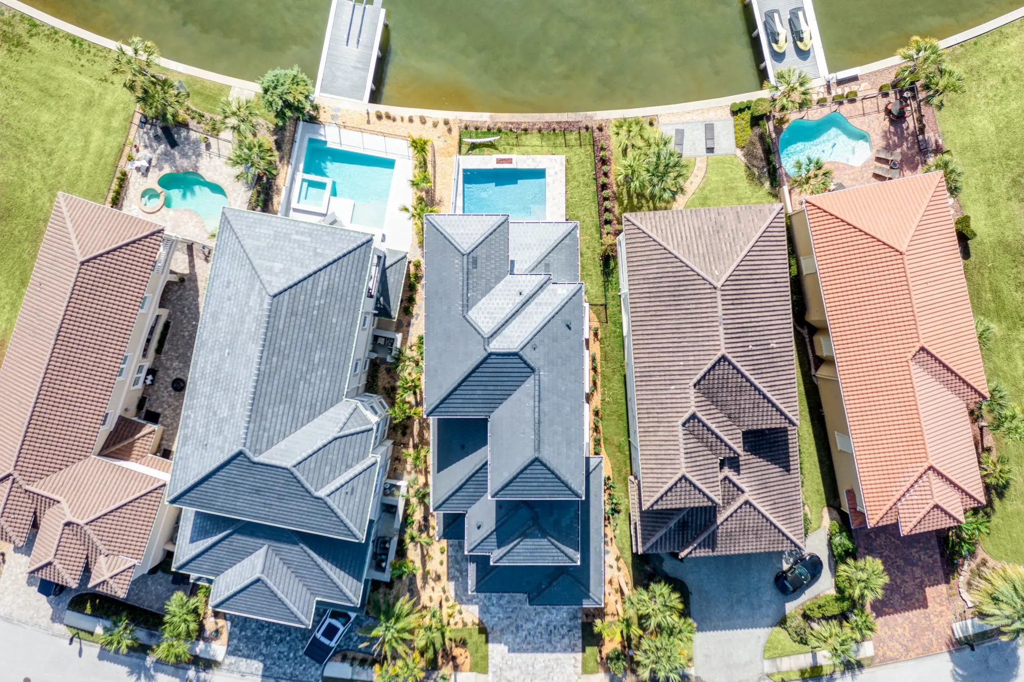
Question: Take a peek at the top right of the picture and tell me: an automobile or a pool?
pool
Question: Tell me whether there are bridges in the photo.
No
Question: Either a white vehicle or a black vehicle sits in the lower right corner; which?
black vehicle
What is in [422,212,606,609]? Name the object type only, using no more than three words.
house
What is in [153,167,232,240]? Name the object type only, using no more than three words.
swimming pool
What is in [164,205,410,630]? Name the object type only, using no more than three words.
house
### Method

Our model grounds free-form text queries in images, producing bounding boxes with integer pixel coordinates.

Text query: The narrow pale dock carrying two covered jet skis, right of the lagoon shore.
[741,0,829,85]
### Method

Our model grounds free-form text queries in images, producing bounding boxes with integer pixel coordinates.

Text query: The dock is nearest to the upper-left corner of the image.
[315,0,391,105]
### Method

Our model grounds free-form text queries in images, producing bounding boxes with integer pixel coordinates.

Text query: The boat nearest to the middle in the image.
[463,136,501,148]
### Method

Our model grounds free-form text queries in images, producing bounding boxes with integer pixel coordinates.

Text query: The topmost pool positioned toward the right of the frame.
[778,110,874,179]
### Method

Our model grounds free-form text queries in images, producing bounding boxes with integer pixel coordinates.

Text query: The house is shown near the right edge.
[779,169,991,537]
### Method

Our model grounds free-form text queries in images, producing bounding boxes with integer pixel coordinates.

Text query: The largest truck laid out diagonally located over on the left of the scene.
[302,612,358,667]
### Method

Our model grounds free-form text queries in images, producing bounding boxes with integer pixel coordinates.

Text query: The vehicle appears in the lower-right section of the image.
[771,551,827,598]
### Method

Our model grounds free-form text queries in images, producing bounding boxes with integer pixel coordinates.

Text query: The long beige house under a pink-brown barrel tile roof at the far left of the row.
[0,191,201,600]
